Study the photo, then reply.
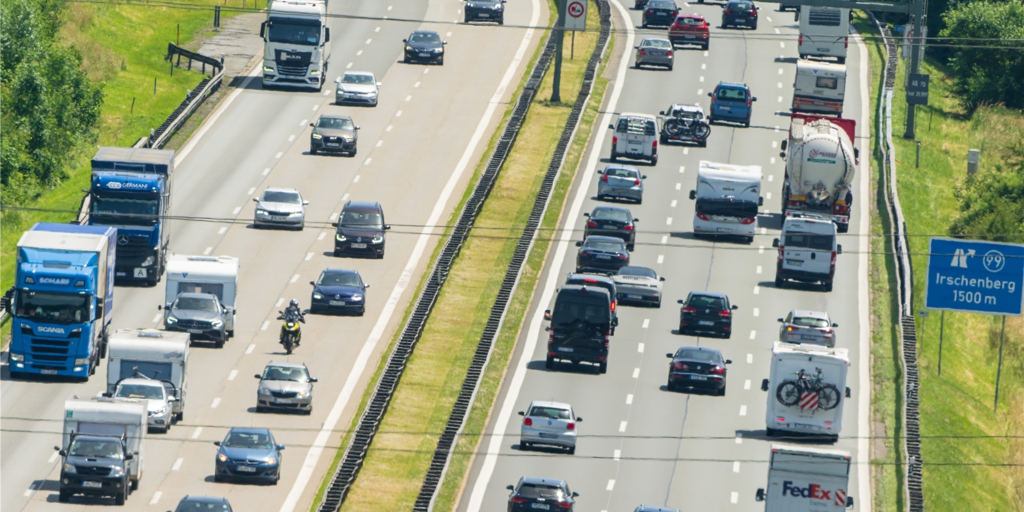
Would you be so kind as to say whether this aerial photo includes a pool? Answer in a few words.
No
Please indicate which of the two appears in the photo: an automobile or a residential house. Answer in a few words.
automobile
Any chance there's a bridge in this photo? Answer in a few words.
No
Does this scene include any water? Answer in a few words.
No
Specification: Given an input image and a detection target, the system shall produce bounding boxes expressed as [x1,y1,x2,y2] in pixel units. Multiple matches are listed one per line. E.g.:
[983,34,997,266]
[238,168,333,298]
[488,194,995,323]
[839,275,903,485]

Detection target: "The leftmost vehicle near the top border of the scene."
[259,0,335,90]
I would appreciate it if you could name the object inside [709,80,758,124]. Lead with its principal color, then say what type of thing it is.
blue van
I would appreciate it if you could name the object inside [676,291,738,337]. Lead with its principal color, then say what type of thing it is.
black car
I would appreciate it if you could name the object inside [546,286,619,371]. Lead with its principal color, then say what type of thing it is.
black van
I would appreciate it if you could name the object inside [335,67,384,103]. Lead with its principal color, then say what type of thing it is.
white car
